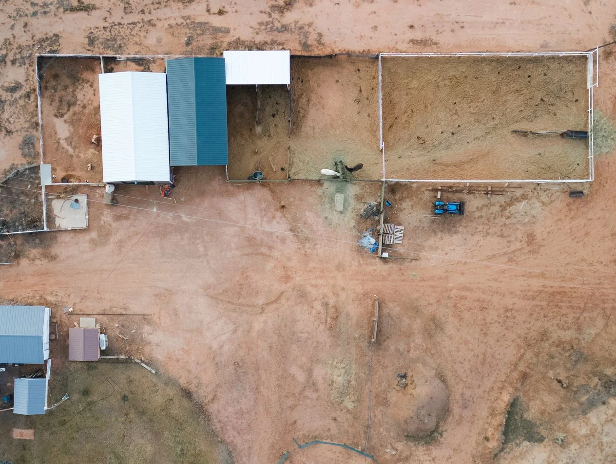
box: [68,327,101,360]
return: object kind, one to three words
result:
shed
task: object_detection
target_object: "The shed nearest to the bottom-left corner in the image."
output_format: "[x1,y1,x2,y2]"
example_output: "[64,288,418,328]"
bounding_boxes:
[13,377,49,415]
